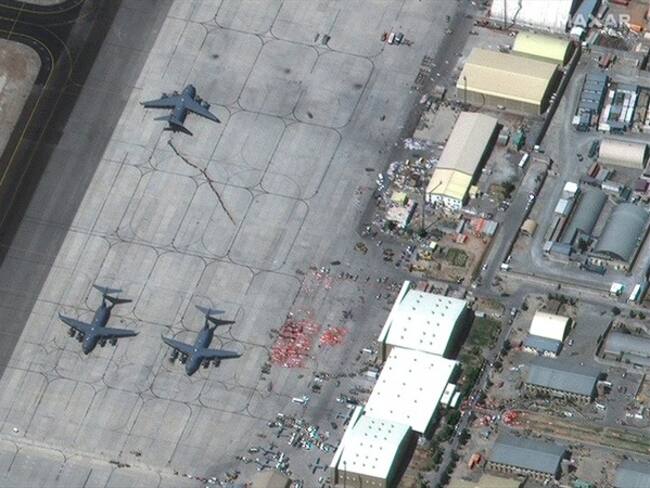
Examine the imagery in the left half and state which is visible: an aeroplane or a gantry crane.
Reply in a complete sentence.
Looking in the left half, you will find an aeroplane.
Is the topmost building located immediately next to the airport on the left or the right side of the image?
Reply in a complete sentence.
The topmost building located immediately next to the airport sits on the right side.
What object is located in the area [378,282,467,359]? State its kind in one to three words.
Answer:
hangar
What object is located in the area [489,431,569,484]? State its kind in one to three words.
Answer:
building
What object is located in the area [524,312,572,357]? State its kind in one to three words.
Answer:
building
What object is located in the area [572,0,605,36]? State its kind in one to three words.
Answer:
shed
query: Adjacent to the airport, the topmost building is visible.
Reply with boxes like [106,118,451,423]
[490,0,578,37]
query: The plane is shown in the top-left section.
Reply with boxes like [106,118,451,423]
[139,84,215,130]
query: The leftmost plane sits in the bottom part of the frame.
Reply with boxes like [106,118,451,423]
[60,282,137,354]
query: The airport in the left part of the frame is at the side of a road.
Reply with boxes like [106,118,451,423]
[0,0,481,488]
